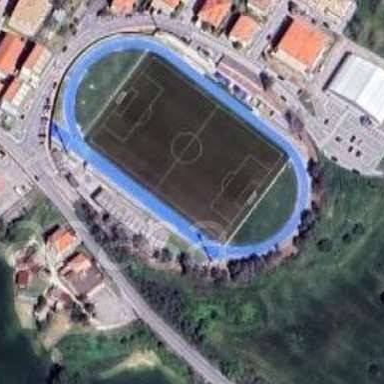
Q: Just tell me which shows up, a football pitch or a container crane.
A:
football pitch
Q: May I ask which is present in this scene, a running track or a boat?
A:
running track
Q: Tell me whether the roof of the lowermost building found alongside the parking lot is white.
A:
Yes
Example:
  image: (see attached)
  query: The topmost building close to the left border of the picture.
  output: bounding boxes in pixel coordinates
[6,0,51,44]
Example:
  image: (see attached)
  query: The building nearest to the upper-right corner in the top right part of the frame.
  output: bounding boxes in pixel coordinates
[301,0,358,38]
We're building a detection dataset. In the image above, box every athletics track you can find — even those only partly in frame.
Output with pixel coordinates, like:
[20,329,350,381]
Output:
[52,36,314,262]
